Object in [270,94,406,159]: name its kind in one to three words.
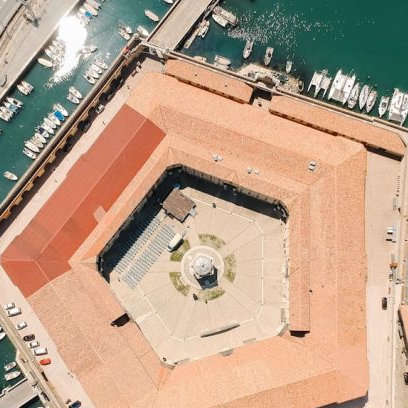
building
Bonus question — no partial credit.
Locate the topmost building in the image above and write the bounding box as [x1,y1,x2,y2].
[165,58,254,106]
